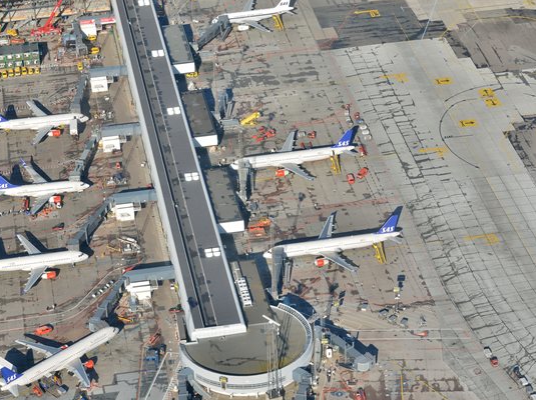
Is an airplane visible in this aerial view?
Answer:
Yes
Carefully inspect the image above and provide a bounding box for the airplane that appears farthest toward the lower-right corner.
[284,212,402,268]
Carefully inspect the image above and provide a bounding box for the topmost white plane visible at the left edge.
[0,101,91,145]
